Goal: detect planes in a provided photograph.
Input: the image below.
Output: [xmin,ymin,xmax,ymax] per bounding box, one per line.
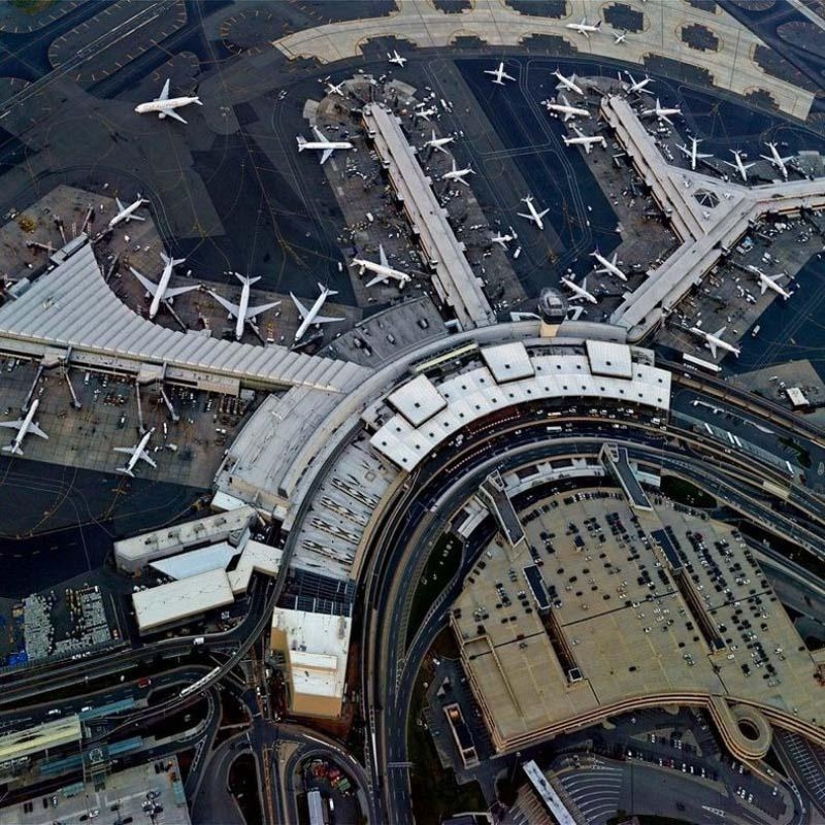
[646,96,685,125]
[207,272,282,342]
[287,283,346,342]
[551,67,582,95]
[563,125,606,154]
[444,162,478,188]
[690,327,743,359]
[591,246,627,281]
[723,146,757,182]
[428,130,459,154]
[559,275,596,305]
[349,244,411,288]
[624,71,657,96]
[548,94,589,121]
[518,191,553,230]
[676,135,715,169]
[135,77,205,124]
[128,251,201,320]
[412,102,438,118]
[324,76,345,96]
[566,17,599,37]
[116,429,162,475]
[110,193,150,226]
[612,27,630,45]
[759,139,794,181]
[0,400,52,454]
[493,228,515,247]
[483,63,516,84]
[748,267,794,299]
[296,126,352,164]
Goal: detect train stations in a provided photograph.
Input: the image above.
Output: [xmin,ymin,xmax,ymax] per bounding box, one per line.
[0,690,84,771]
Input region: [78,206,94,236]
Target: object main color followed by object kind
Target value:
gray jet bridge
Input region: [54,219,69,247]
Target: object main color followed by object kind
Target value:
gray jet bridge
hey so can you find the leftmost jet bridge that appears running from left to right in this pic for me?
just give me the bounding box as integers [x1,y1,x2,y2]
[27,239,60,253]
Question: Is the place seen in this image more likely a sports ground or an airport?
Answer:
airport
